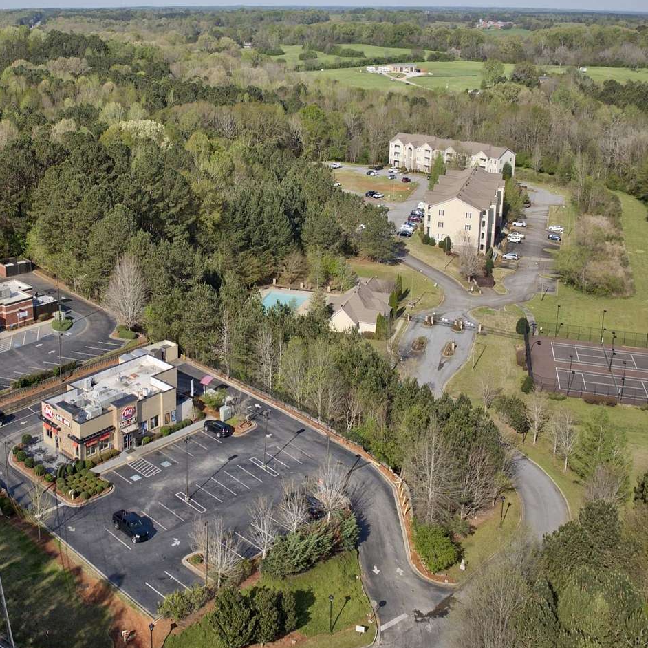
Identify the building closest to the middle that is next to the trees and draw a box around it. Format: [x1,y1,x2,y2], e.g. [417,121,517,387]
[321,282,386,334]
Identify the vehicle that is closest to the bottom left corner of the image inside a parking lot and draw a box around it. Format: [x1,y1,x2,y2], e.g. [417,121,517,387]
[114,506,148,537]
